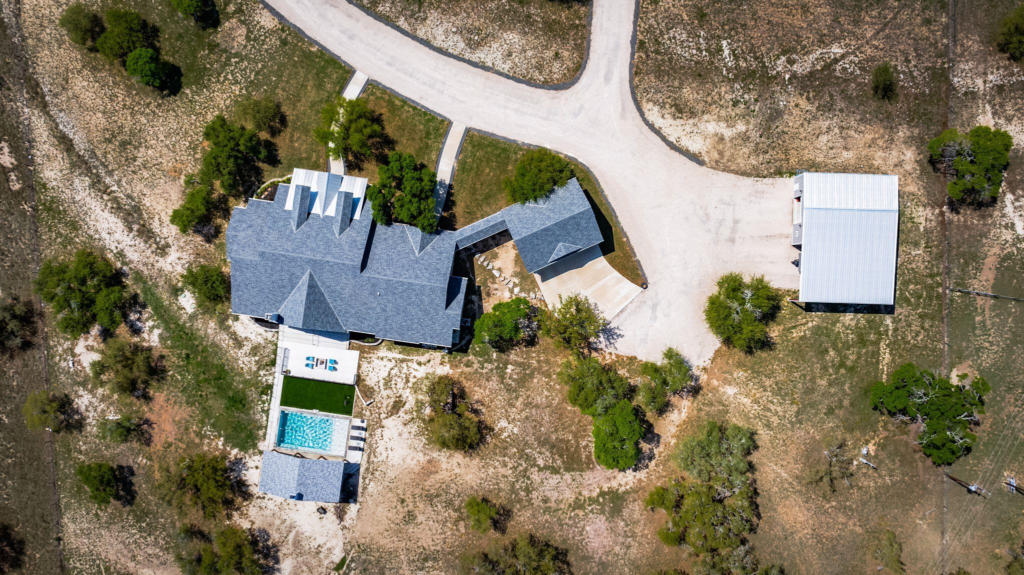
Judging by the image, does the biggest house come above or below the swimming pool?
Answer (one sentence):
The biggest house appears above the swimming pool in the picture.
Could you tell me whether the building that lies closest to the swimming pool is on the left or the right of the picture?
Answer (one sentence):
The building that lies closest to the swimming pool is on the left side of the image.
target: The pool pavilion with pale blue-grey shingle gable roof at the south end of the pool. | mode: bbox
[258,449,346,503]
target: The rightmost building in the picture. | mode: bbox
[787,172,899,305]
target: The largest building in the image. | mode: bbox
[226,168,468,348]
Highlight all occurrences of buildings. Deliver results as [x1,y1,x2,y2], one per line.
[258,449,346,503]
[226,168,468,348]
[501,179,604,274]
[787,172,899,305]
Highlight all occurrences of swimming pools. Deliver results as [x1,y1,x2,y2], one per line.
[273,406,352,458]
